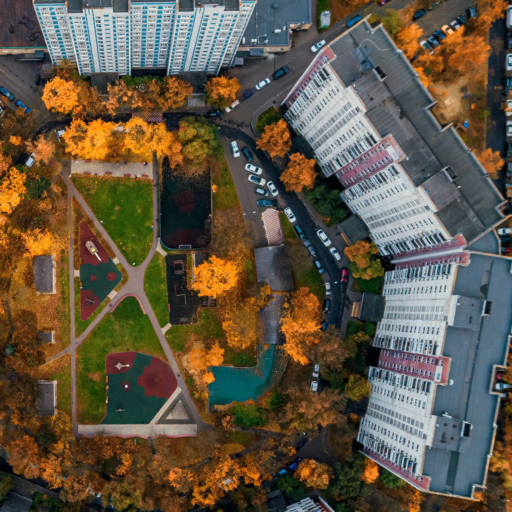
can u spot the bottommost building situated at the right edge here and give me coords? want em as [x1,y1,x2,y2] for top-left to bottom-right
[353,252,512,504]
